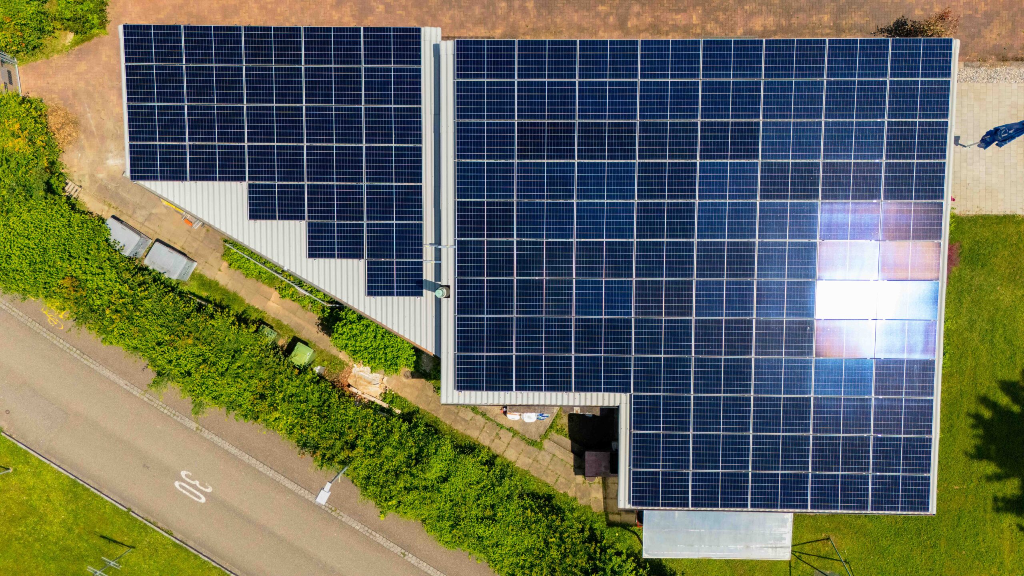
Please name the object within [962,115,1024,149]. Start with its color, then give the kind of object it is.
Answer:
blue umbrella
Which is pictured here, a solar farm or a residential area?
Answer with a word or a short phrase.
solar farm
